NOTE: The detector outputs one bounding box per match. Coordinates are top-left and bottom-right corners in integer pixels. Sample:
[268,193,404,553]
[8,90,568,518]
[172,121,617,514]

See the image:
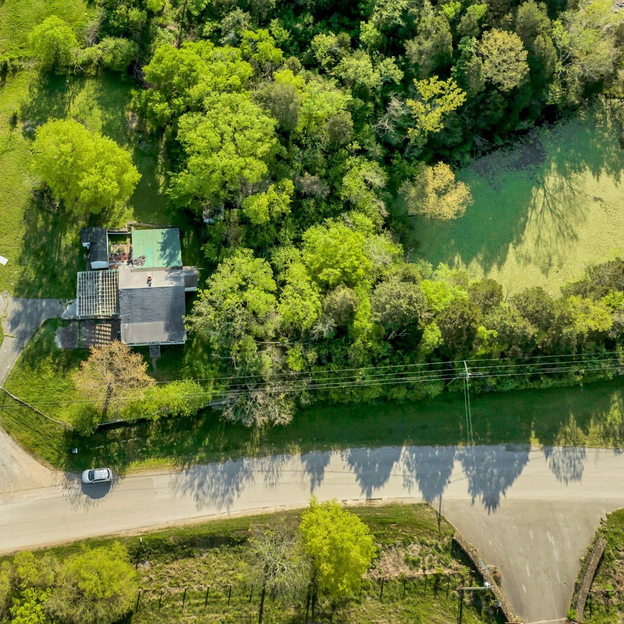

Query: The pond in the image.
[396,99,624,302]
